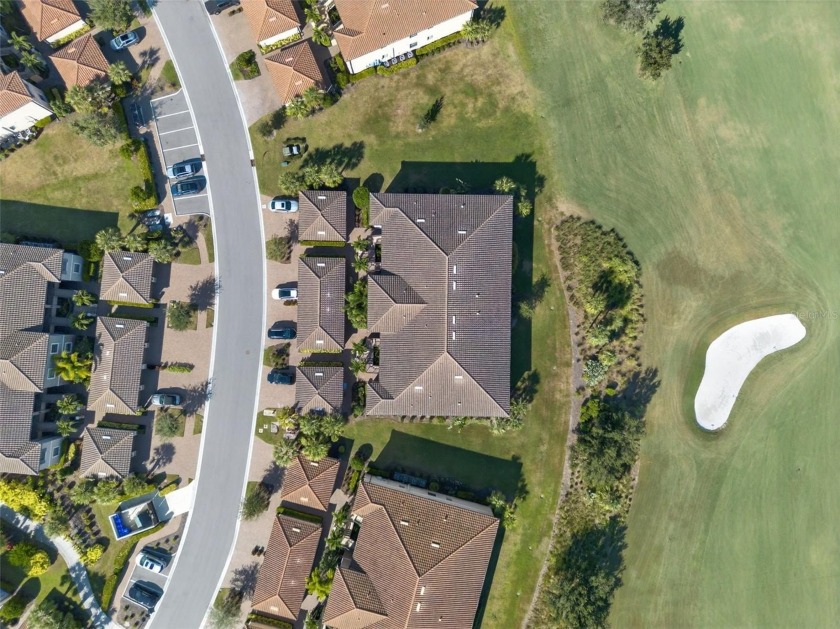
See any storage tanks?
No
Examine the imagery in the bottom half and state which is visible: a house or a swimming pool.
house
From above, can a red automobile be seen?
No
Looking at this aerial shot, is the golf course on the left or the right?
right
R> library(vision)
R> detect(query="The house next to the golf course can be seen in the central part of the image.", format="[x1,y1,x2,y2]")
[365,192,514,417]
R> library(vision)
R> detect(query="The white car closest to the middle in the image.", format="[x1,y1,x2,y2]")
[272,287,298,301]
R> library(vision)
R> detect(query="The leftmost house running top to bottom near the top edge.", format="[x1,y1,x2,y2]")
[0,17,58,148]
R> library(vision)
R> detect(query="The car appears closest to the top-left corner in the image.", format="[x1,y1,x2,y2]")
[112,32,141,52]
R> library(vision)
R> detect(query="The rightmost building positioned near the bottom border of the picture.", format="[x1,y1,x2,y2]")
[320,472,500,629]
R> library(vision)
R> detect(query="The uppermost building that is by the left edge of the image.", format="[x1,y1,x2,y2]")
[16,0,89,43]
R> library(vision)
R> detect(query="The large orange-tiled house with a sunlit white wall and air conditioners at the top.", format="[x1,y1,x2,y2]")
[321,0,479,72]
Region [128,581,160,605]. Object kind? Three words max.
car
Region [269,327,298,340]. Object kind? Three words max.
vehicle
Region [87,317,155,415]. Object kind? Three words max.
building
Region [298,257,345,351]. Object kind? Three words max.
building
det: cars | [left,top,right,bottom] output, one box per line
[168,164,199,180]
[112,32,141,52]
[152,393,185,406]
[172,180,205,195]
[272,287,298,301]
[269,327,298,340]
[267,371,296,385]
[269,199,299,213]
[128,581,160,605]
[207,0,239,16]
[136,550,168,574]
